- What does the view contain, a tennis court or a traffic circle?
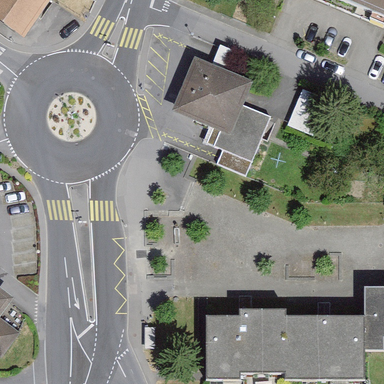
traffic circle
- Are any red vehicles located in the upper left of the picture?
No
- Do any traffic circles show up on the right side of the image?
No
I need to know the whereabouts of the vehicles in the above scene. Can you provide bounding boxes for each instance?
[59,18,82,39]
[338,36,352,58]
[6,191,27,202]
[321,58,346,75]
[304,22,318,44]
[8,204,30,214]
[0,181,12,192]
[296,49,318,64]
[324,26,338,50]
[370,55,384,80]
